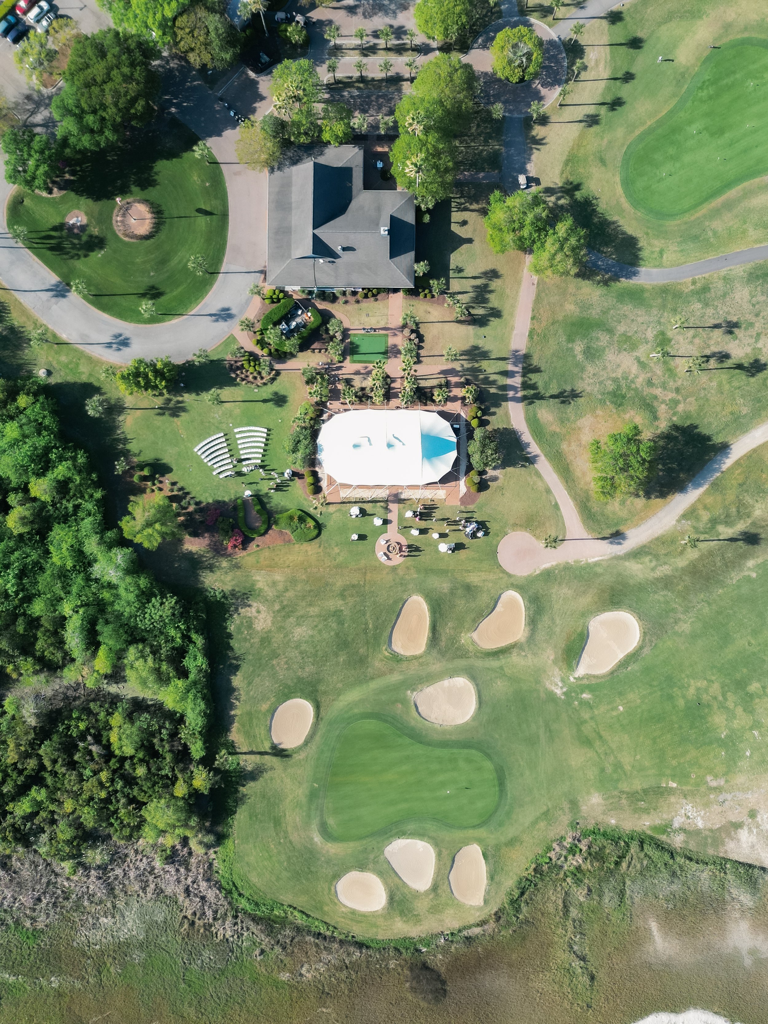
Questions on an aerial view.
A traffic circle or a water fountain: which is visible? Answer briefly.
traffic circle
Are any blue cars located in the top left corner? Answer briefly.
Yes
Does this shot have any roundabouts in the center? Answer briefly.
No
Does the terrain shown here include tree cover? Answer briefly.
Yes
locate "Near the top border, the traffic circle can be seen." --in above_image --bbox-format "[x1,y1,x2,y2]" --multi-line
[470,17,567,115]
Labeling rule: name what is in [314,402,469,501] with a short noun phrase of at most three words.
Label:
tent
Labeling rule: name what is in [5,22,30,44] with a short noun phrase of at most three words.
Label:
car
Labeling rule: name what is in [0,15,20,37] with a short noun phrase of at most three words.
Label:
car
